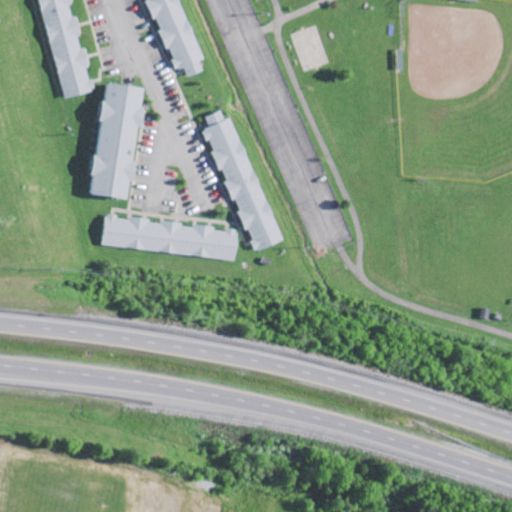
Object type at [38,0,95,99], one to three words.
building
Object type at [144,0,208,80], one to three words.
building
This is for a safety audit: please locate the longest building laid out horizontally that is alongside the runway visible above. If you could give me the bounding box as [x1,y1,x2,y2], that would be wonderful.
[102,216,239,260]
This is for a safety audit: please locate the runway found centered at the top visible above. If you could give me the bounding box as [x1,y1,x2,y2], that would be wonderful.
[208,0,352,247]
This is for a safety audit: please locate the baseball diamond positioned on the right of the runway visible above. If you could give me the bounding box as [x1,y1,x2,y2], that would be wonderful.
[398,0,512,182]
